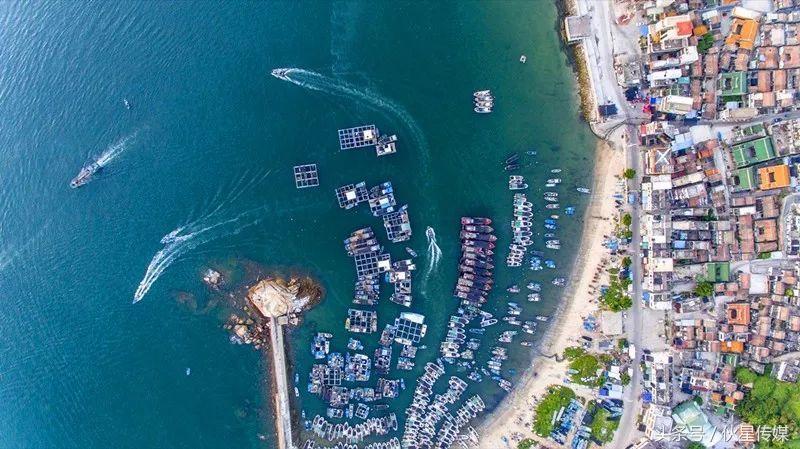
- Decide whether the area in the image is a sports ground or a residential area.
residential area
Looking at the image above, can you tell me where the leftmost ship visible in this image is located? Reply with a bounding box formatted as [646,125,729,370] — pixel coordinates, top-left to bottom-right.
[69,163,98,187]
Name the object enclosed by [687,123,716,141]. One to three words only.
house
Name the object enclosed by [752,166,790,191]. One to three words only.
building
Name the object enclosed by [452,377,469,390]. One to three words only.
boat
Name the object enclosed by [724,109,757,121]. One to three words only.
house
